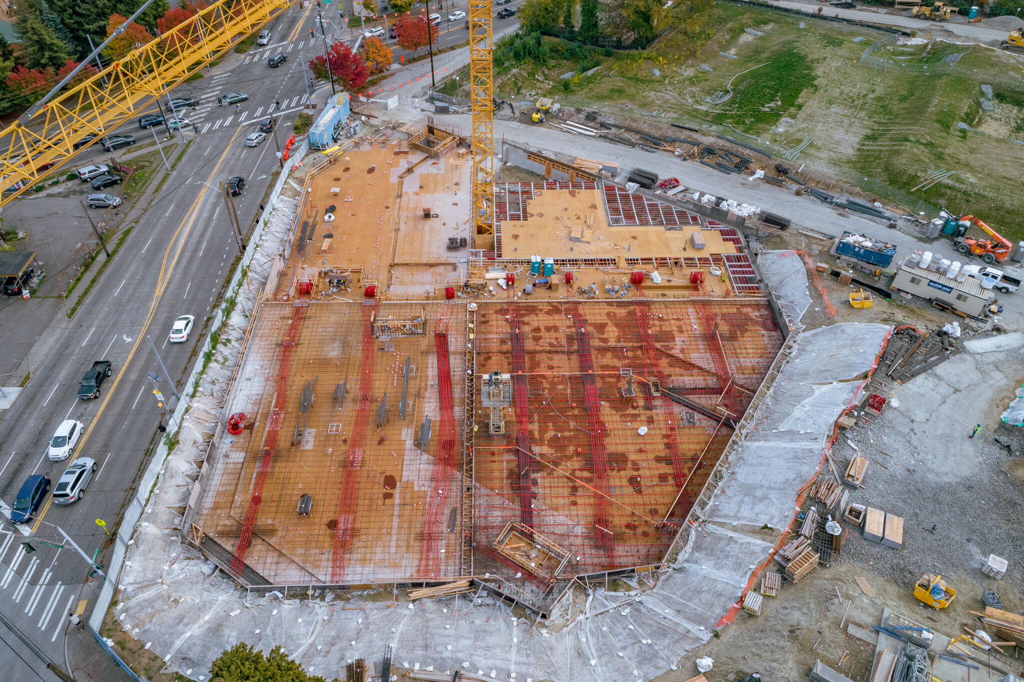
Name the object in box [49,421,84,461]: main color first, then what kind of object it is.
white car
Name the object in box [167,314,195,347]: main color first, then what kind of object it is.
white car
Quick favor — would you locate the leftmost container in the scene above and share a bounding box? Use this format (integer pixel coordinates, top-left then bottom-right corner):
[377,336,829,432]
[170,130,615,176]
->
[306,92,361,148]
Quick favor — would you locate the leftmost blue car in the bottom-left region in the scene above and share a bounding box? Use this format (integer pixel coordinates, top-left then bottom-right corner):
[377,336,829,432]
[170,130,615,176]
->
[12,477,50,523]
